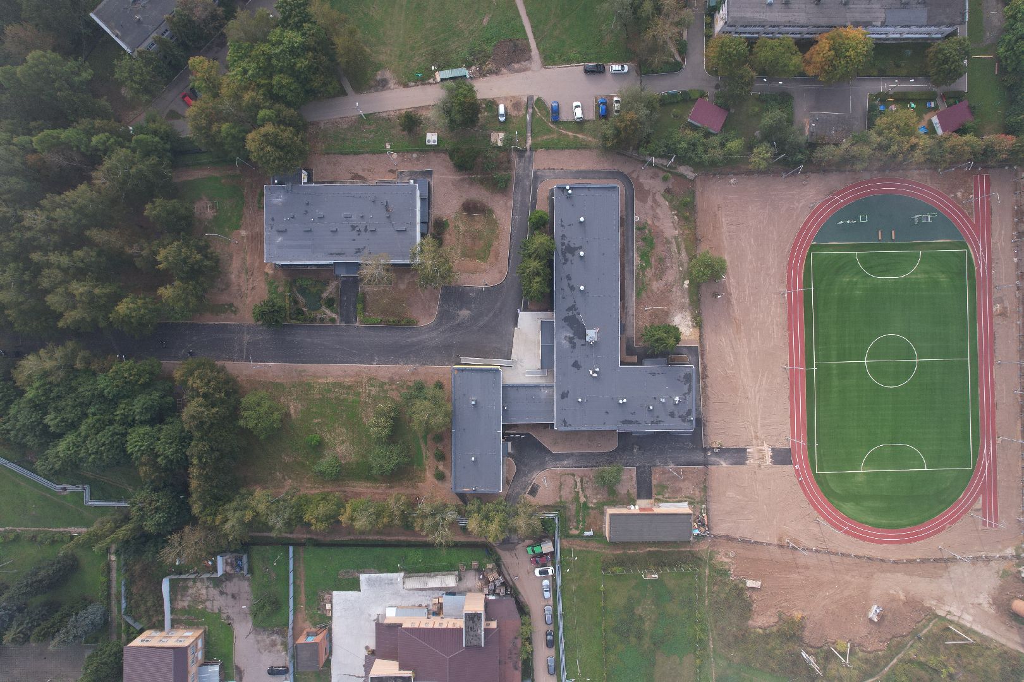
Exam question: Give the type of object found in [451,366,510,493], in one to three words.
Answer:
building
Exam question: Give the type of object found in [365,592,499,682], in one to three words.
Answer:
building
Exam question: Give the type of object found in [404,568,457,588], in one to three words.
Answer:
shed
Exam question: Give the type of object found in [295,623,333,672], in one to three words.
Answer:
house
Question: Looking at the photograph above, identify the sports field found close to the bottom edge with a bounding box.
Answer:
[601,568,703,682]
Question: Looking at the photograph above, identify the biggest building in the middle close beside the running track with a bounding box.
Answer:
[541,185,695,435]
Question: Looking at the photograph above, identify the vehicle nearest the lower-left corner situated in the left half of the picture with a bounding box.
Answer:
[267,666,288,678]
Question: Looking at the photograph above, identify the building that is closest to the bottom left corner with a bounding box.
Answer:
[124,631,223,682]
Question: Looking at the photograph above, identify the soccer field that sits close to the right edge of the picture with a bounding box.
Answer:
[805,242,979,527]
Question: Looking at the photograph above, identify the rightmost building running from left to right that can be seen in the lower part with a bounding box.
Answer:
[608,502,701,542]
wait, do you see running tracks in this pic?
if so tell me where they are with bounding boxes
[787,172,1000,545]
